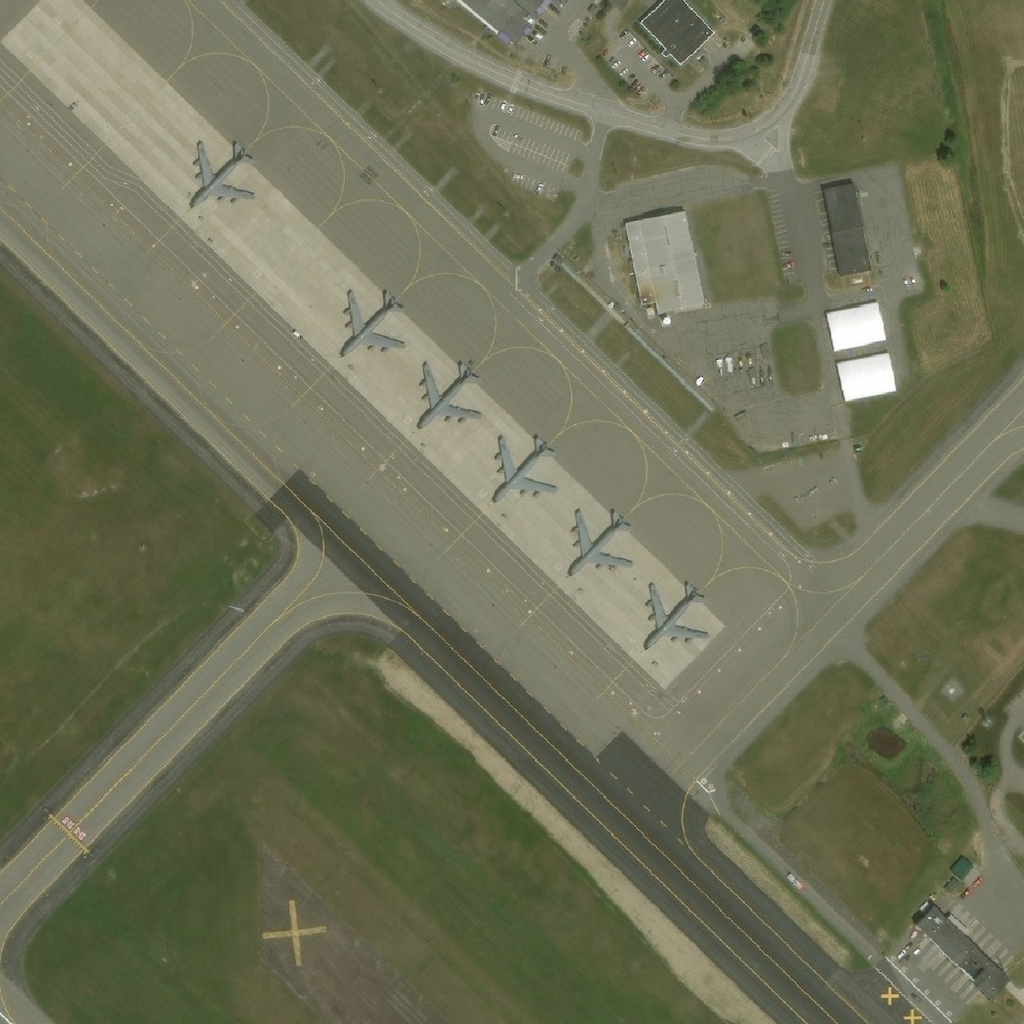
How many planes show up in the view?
six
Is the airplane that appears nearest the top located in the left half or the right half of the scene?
left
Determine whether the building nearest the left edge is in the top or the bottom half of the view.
top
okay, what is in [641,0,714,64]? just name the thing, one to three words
building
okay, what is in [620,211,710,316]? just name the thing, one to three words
hangar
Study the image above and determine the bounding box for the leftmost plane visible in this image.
[191,141,256,206]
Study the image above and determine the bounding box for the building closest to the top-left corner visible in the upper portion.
[457,0,556,45]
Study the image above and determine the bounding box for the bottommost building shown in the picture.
[916,903,1010,1002]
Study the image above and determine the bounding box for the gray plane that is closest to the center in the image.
[493,436,558,501]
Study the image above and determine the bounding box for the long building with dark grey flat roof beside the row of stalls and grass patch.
[823,182,872,276]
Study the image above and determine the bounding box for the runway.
[260,843,454,1024]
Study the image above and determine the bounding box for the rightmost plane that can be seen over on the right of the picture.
[646,583,711,649]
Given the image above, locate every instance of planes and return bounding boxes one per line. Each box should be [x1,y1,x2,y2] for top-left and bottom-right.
[493,436,558,501]
[191,141,256,206]
[569,510,634,575]
[418,362,483,428]
[342,291,406,356]
[646,583,711,649]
